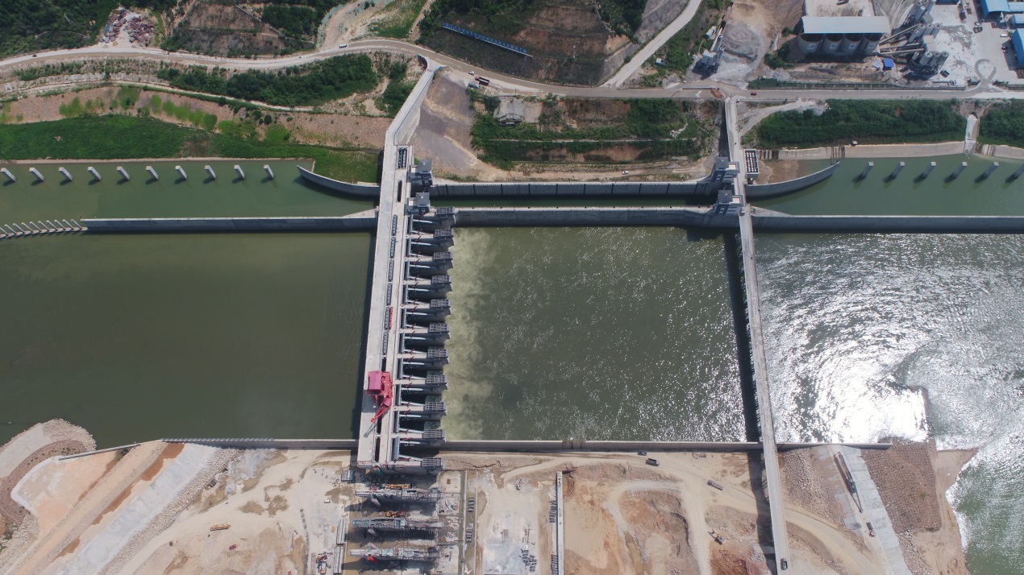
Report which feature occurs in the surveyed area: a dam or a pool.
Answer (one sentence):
It is a dam that can be seen here.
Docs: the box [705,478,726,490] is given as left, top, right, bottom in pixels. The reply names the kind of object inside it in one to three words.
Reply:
vehicle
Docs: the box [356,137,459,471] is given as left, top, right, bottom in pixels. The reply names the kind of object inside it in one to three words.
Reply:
dam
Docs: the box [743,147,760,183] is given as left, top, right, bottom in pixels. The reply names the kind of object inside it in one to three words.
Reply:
building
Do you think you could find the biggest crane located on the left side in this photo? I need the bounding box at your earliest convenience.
[365,373,398,428]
